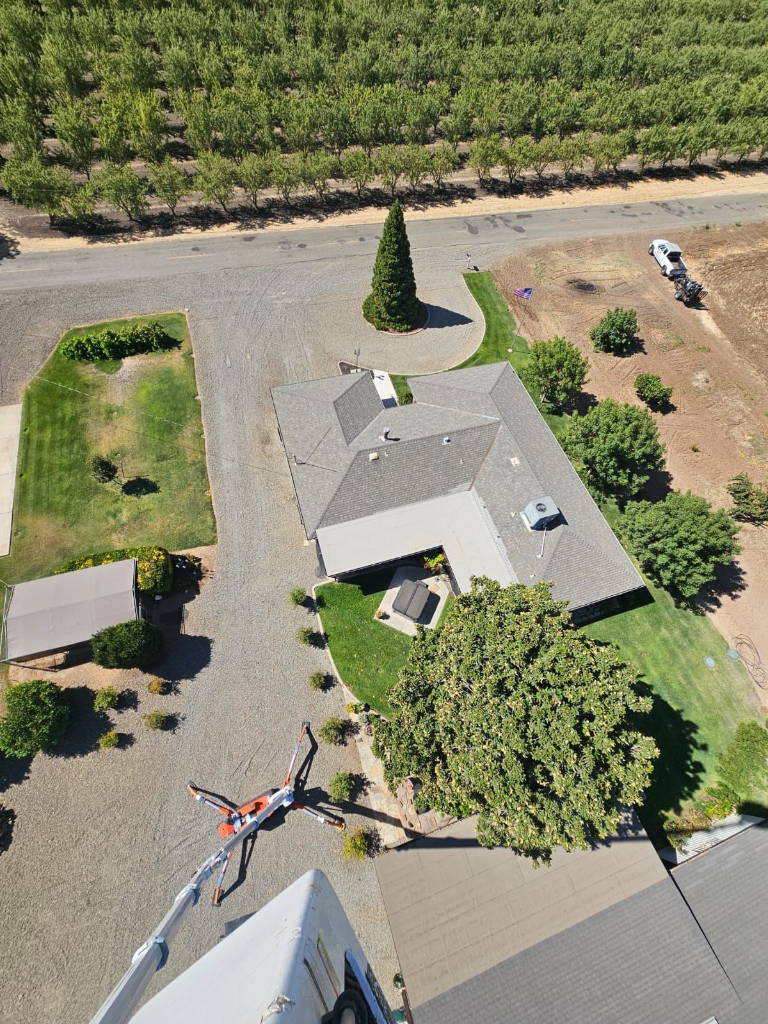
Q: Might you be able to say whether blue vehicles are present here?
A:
No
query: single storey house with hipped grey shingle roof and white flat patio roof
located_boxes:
[269,360,644,635]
